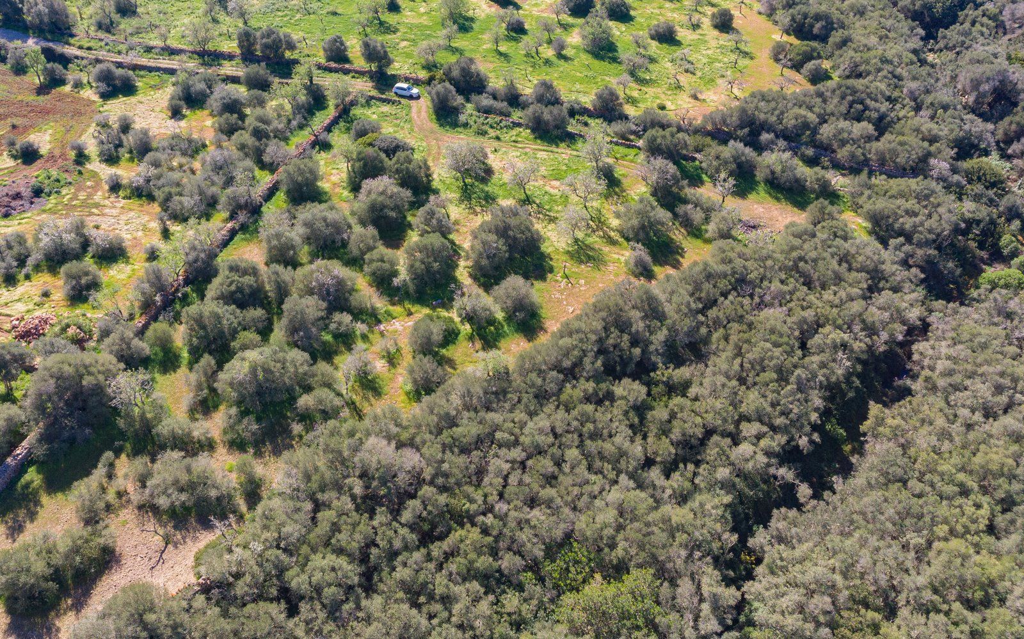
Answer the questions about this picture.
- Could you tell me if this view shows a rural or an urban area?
rural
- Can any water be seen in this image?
No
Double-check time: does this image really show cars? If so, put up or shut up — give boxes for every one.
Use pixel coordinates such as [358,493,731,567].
[391,80,419,97]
